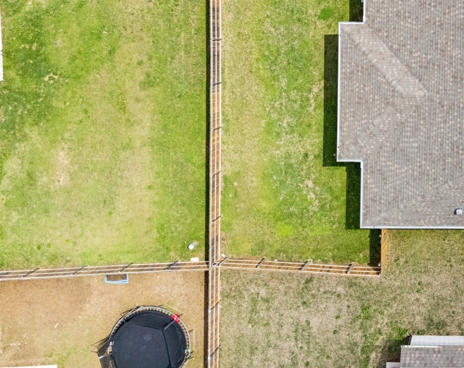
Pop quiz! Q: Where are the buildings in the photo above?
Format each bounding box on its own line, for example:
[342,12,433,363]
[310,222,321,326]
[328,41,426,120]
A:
[400,335,464,368]
[334,0,464,231]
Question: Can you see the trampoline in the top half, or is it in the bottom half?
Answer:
bottom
